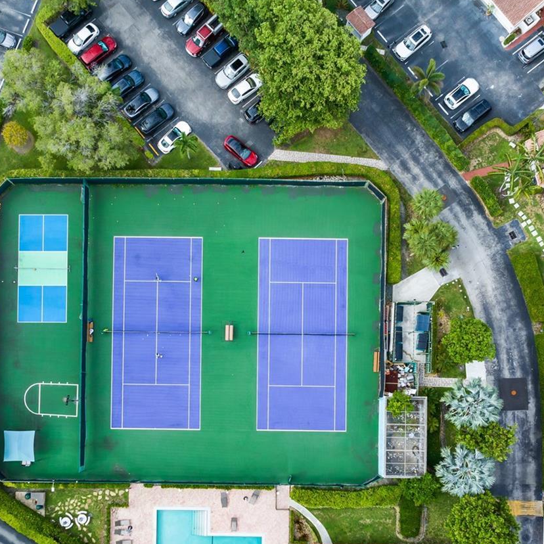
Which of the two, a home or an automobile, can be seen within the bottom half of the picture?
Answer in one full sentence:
The one visible within the bottom half of the picture is a home.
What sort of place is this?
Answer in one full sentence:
It's a sports ground.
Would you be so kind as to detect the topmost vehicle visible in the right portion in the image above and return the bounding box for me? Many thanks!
[363,0,397,23]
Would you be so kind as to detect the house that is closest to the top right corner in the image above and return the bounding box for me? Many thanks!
[467,0,544,42]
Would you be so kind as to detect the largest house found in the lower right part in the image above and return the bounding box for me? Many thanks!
[380,396,427,477]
